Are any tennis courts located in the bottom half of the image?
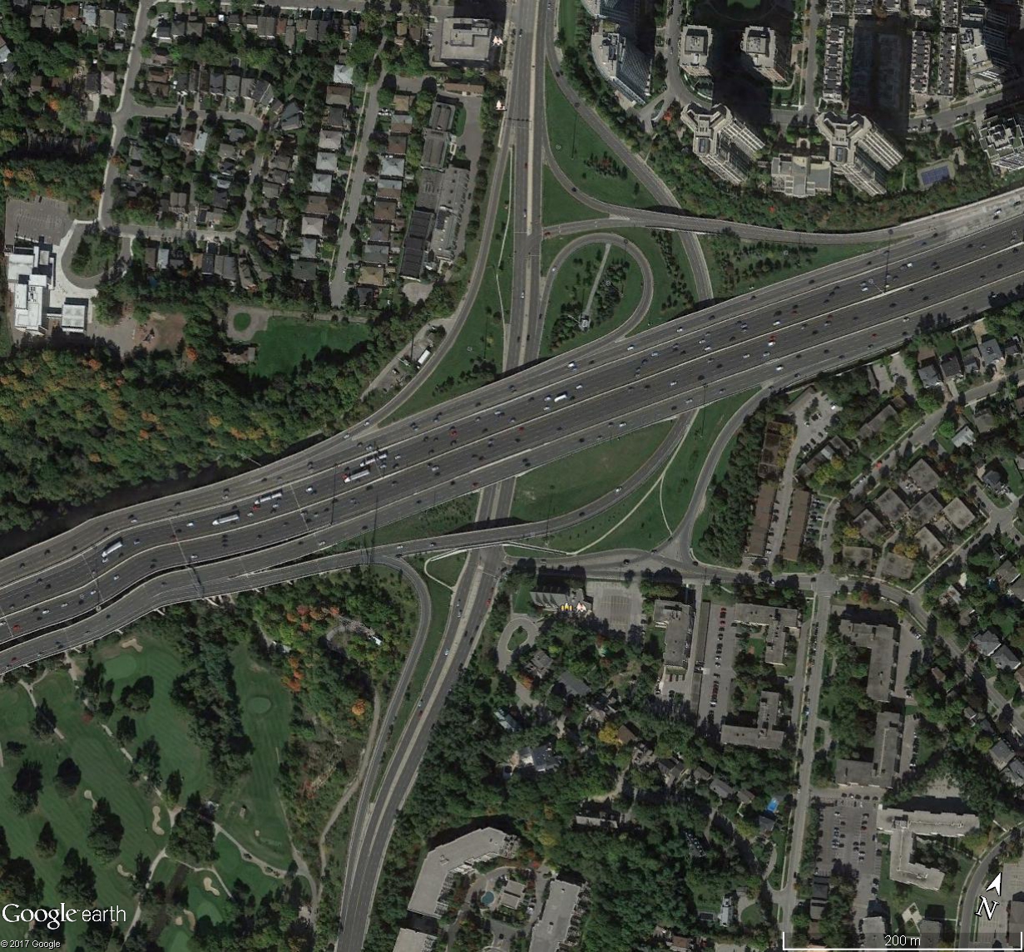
No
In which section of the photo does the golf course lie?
bottom left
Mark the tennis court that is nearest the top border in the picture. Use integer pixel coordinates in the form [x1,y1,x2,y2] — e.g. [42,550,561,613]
[919,161,956,190]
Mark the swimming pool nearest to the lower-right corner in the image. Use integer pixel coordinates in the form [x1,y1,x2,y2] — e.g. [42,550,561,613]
[766,793,782,818]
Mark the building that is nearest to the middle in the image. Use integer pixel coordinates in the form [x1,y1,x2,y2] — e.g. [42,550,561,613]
[530,588,593,615]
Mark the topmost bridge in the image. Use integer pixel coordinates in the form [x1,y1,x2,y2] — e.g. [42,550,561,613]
[617,206,741,231]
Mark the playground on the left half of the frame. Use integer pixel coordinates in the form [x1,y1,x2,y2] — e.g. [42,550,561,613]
[135,313,185,351]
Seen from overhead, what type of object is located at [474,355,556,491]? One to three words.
overpass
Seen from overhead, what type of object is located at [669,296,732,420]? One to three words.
overpass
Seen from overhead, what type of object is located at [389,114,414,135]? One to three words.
house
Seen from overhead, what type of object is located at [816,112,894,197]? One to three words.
building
